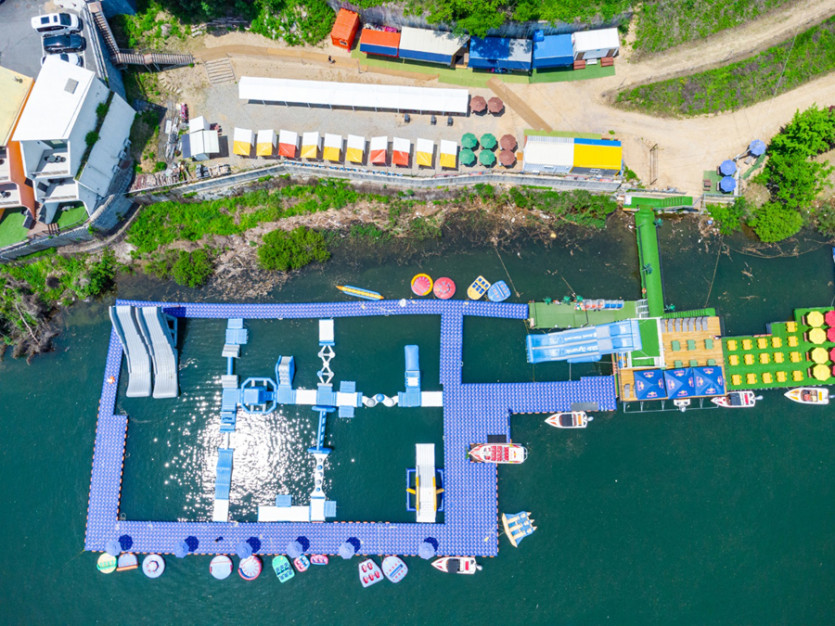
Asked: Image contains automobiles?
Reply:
Yes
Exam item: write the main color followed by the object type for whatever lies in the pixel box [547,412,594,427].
white boat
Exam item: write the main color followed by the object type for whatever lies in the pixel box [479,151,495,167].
green umbrella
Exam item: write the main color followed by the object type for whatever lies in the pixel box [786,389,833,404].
white boat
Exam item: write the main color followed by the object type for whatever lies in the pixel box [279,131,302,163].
white tent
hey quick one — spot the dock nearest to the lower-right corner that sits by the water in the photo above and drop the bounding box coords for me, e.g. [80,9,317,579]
[721,306,835,392]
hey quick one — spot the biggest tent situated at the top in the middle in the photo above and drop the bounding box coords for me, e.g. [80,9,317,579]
[237,77,469,118]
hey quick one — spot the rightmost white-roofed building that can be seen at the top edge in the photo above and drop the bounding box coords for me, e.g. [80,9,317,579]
[572,28,620,62]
